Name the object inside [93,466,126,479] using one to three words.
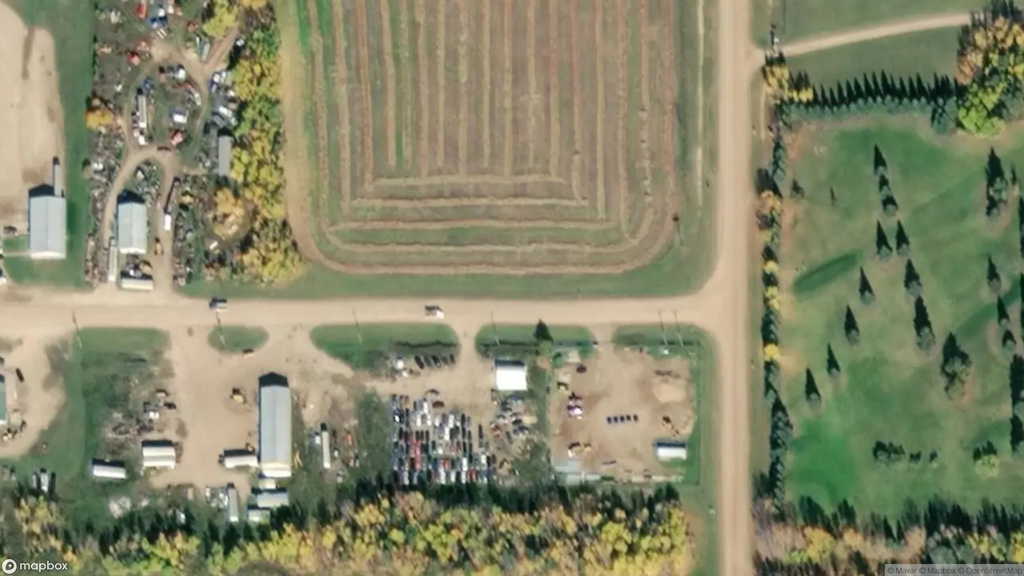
shed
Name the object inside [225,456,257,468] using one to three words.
shed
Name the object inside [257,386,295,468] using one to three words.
barn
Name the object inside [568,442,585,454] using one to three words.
vehicle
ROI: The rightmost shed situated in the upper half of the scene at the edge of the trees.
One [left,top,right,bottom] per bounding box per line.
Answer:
[217,137,234,178]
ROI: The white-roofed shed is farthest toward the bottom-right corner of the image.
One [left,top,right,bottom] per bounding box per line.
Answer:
[657,448,687,460]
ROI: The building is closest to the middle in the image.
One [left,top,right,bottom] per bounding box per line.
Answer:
[495,368,528,390]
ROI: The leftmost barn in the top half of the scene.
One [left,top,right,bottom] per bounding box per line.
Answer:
[27,197,69,259]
